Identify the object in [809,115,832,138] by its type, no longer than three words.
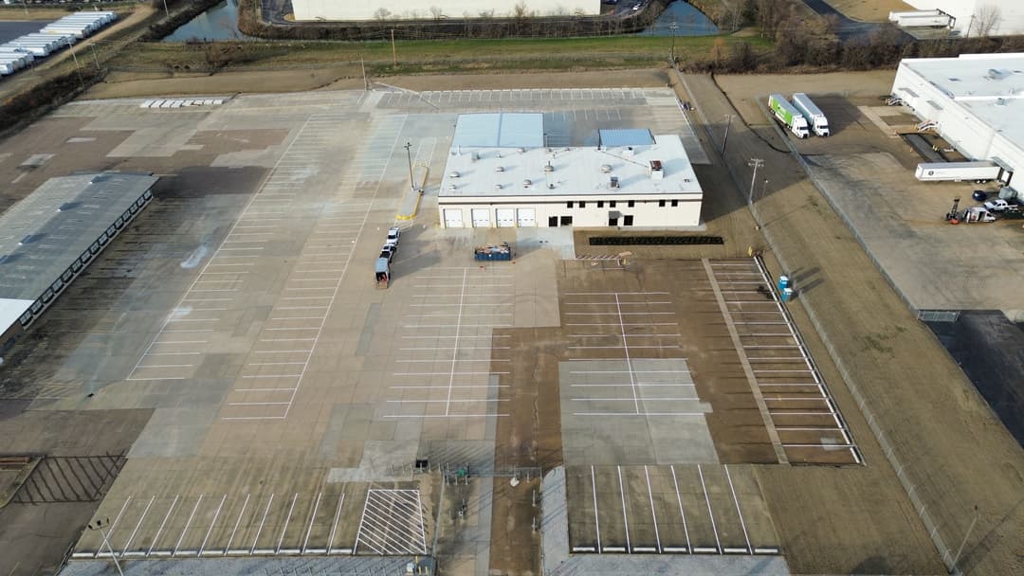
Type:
truck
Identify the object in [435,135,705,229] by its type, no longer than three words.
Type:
building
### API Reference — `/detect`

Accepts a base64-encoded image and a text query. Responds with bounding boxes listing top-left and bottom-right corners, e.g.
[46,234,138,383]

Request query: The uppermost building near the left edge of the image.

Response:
[0,171,161,329]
